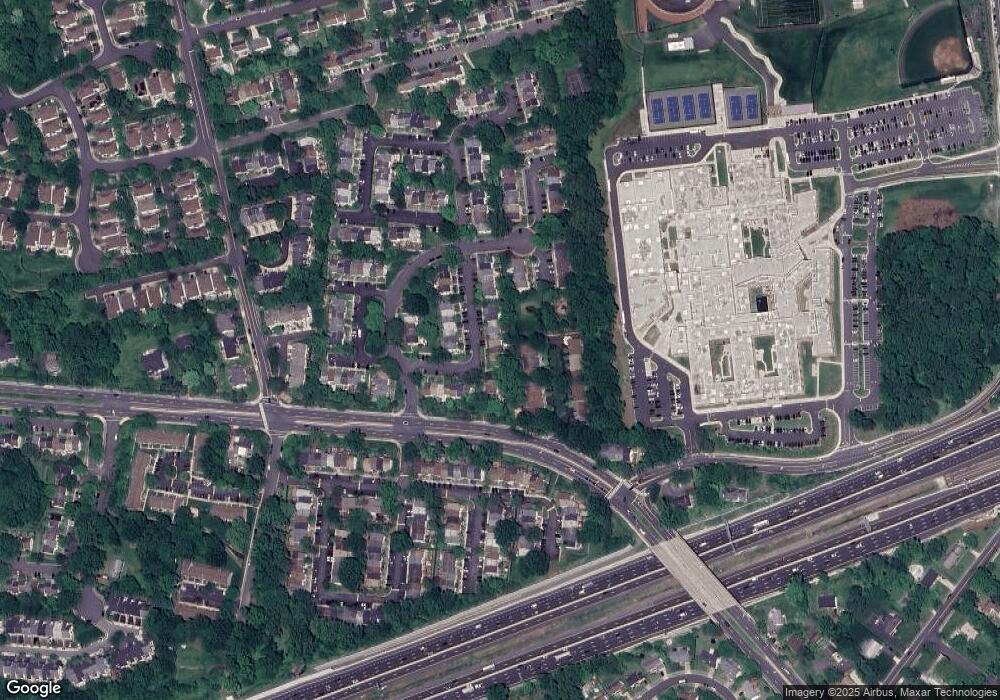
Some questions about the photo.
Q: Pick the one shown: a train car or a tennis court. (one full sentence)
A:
Visible in the photo is a tennis court.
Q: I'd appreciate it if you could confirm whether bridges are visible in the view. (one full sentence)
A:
Yes, a bridge appears in the view.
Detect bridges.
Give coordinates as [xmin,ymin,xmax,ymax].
[648,527,737,618]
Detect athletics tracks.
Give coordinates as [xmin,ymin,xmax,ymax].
[636,0,715,32]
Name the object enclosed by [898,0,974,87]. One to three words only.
baseball field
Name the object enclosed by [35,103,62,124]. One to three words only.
house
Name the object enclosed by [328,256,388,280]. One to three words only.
building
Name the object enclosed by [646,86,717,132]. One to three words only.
tennis court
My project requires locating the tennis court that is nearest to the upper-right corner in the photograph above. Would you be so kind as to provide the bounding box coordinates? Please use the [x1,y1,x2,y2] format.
[724,86,761,128]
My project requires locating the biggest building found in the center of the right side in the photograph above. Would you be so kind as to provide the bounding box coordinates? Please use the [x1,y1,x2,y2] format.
[624,148,842,404]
